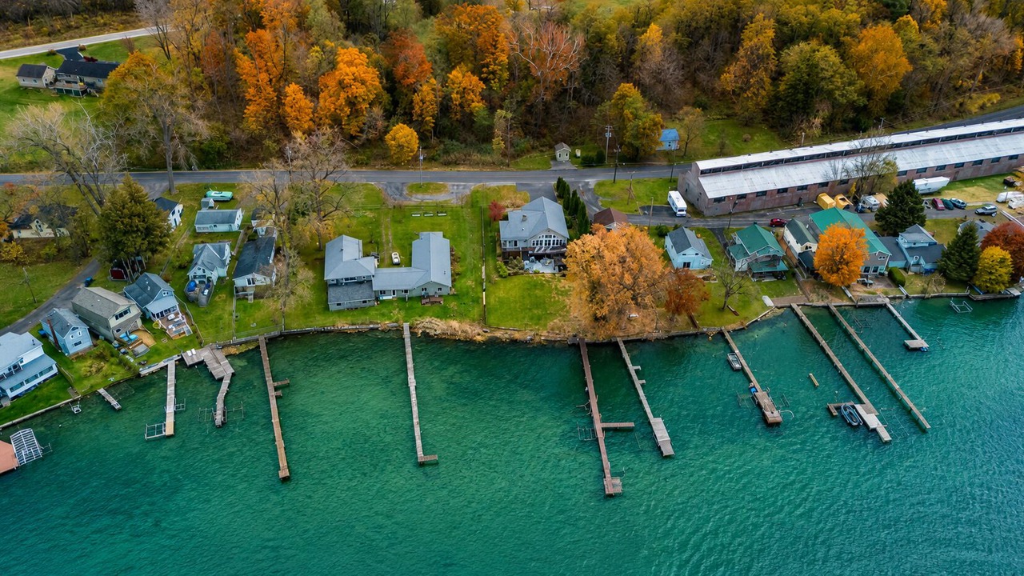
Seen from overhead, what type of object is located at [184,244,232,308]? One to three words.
house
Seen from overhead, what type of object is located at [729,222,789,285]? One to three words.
house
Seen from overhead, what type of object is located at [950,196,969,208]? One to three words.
vehicle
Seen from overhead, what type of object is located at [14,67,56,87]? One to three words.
building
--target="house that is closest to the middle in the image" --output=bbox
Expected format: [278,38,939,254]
[493,196,569,274]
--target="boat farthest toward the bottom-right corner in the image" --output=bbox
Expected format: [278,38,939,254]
[840,408,866,428]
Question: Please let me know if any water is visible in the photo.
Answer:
Yes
